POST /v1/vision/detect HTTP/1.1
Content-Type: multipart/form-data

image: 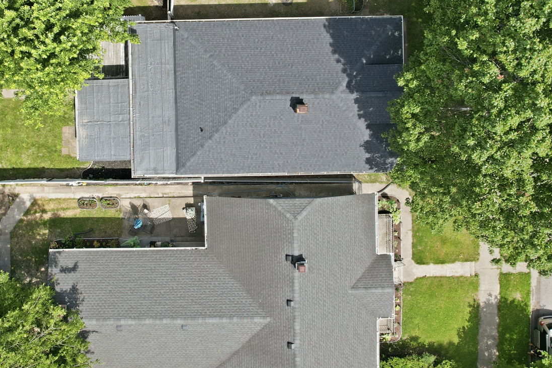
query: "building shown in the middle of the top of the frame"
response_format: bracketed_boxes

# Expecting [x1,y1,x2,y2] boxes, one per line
[77,14,406,178]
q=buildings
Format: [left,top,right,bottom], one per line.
[38,193,406,368]
[77,14,406,178]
